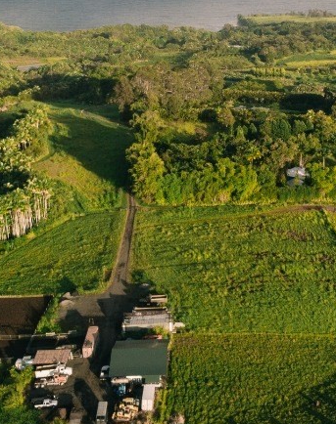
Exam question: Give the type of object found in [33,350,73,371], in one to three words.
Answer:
shed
